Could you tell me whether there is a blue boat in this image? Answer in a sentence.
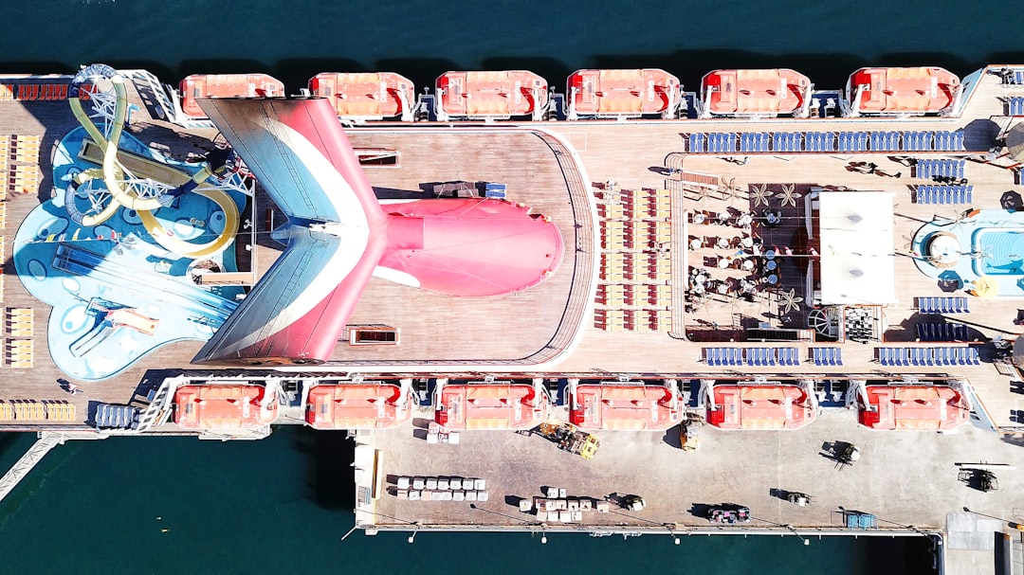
No, there's no blue boat here.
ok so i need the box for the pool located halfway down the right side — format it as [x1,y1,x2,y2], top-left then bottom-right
[909,207,1024,297]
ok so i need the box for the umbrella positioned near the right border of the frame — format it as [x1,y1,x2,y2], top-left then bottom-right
[970,273,997,299]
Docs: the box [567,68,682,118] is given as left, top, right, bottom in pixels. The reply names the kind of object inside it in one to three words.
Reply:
boat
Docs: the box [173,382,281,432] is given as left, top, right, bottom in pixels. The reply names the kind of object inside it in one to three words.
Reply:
boat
